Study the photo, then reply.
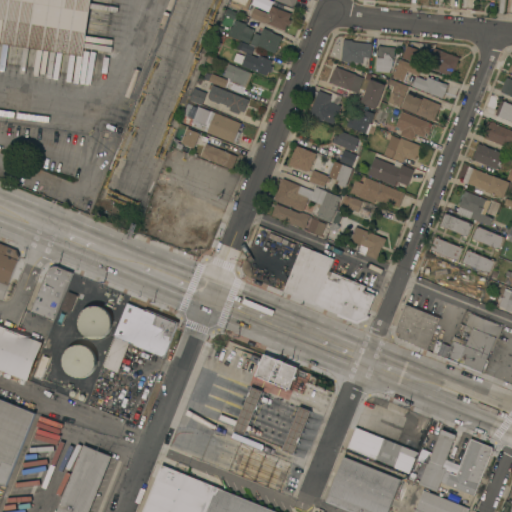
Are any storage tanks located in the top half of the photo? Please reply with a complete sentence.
No, the scene shows no storage tank in the top half of the photo.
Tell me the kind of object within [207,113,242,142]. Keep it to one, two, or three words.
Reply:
house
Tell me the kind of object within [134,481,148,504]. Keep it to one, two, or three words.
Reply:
vehicle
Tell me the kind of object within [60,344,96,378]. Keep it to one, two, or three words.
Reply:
storage tank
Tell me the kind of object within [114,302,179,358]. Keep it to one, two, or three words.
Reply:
building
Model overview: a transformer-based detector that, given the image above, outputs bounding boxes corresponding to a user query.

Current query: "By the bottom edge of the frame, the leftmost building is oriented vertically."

[0,398,37,487]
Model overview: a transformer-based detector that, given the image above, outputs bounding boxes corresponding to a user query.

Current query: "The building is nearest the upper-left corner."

[0,0,92,58]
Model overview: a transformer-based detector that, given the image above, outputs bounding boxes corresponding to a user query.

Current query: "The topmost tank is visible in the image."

[76,305,112,339]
